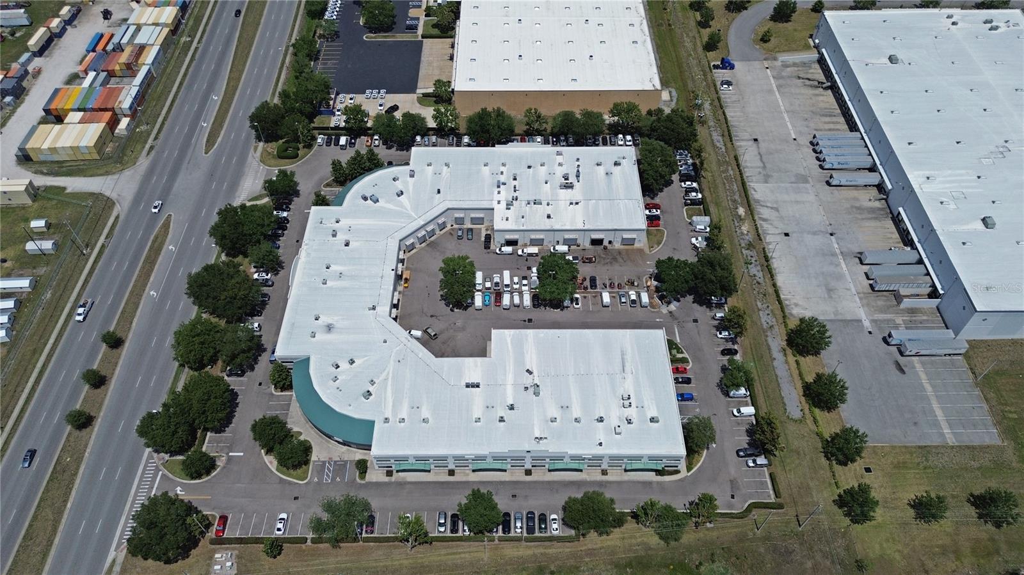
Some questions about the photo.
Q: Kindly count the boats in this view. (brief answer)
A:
0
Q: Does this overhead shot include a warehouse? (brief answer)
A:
Yes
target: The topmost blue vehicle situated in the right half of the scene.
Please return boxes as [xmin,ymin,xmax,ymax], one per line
[713,57,734,70]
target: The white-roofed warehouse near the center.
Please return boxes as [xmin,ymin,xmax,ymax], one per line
[275,144,686,470]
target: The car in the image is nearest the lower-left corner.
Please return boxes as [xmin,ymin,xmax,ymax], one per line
[21,447,37,468]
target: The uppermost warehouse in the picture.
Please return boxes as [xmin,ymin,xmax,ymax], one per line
[453,0,661,116]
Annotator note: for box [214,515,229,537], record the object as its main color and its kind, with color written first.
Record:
red car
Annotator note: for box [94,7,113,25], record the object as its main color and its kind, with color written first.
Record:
black work vehicle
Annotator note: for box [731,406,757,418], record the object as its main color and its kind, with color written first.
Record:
white vehicle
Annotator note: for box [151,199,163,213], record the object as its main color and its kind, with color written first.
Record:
white vehicle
